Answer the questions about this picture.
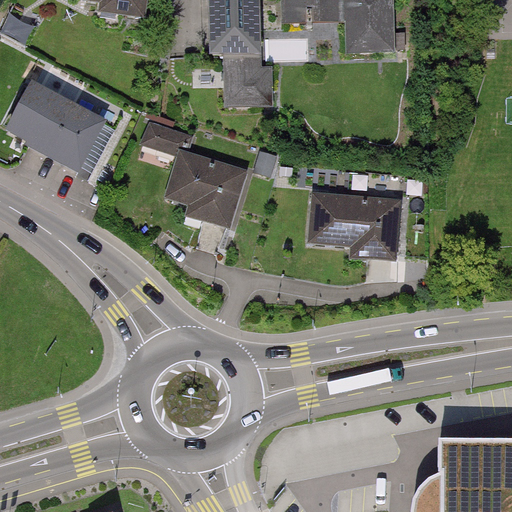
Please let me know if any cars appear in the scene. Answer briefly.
Yes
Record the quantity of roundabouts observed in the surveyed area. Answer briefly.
1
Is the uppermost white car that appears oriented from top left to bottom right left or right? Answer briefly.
left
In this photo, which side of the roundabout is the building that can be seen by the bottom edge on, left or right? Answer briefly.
to its right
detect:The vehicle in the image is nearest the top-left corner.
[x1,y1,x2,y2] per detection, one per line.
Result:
[38,157,54,178]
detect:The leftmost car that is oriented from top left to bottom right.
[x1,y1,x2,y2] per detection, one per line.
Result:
[17,215,39,234]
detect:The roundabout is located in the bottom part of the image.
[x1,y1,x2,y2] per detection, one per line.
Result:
[118,326,264,473]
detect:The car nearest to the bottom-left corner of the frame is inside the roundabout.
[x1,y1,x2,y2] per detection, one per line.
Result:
[130,400,143,424]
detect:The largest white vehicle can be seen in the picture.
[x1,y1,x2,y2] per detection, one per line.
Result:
[326,364,406,395]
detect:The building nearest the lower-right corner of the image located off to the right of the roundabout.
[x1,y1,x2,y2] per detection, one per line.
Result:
[410,437,512,512]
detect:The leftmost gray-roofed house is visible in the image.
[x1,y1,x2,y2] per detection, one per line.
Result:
[6,79,106,174]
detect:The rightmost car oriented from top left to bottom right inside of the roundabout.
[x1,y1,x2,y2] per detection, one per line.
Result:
[220,357,238,379]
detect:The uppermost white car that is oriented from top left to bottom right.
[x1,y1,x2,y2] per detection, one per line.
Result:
[164,242,186,262]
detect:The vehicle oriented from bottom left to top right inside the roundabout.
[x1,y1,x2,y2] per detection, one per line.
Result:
[240,410,262,428]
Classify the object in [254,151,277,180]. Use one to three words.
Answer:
shed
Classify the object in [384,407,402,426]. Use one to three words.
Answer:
car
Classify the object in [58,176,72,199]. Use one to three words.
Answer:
car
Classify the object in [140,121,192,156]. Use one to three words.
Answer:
house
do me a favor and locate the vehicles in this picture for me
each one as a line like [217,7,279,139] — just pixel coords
[130,400,143,424]
[414,401,438,425]
[88,277,110,300]
[17,215,39,234]
[266,346,291,358]
[58,176,72,199]
[414,326,438,338]
[326,364,406,395]
[220,357,238,379]
[375,475,386,503]
[384,407,402,426]
[240,410,262,428]
[164,242,186,262]
[38,157,54,178]
[77,233,103,254]
[116,317,132,342]
[184,438,206,450]
[141,282,165,305]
